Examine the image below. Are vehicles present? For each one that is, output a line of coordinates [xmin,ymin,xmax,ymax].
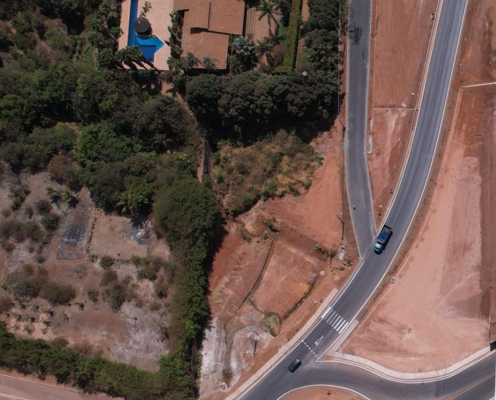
[374,224,392,253]
[287,358,301,372]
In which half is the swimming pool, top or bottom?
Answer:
top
